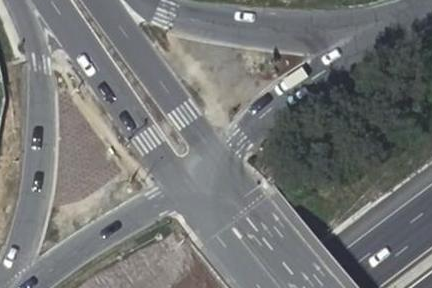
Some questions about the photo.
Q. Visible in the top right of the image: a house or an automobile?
automobile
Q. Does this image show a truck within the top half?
Yes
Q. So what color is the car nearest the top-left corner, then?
white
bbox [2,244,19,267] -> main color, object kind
white car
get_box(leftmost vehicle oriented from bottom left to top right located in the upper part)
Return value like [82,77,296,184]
[249,92,273,114]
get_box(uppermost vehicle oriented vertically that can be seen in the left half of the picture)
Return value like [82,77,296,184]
[30,124,42,149]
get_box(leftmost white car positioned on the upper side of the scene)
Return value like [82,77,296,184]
[75,52,96,76]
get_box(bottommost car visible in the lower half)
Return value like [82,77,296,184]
[16,274,39,288]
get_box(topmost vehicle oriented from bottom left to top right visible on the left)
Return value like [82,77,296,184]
[99,218,122,238]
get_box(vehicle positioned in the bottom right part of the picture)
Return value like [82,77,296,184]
[369,246,392,266]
